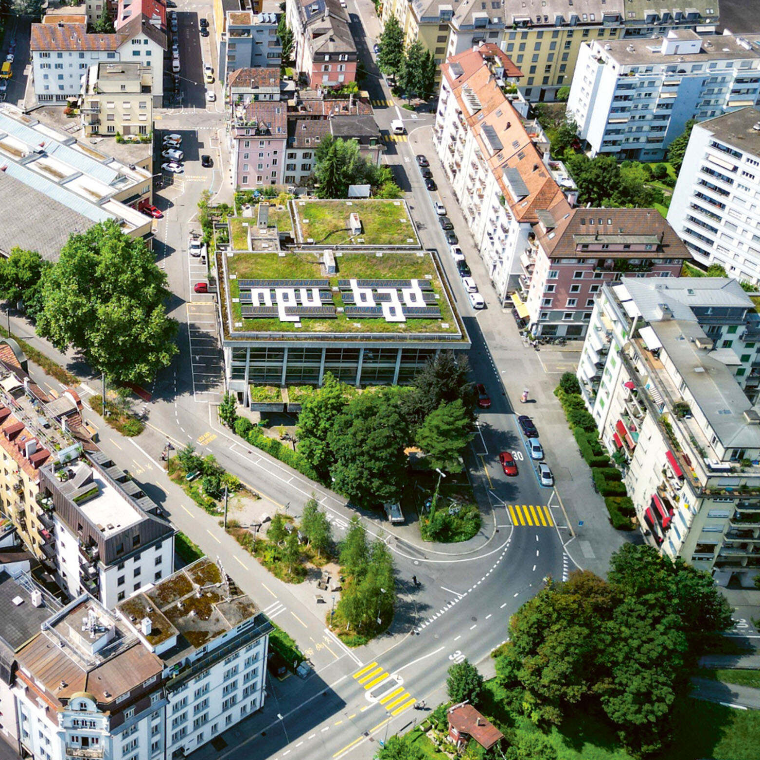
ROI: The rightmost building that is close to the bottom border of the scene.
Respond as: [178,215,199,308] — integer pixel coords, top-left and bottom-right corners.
[447,700,504,758]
